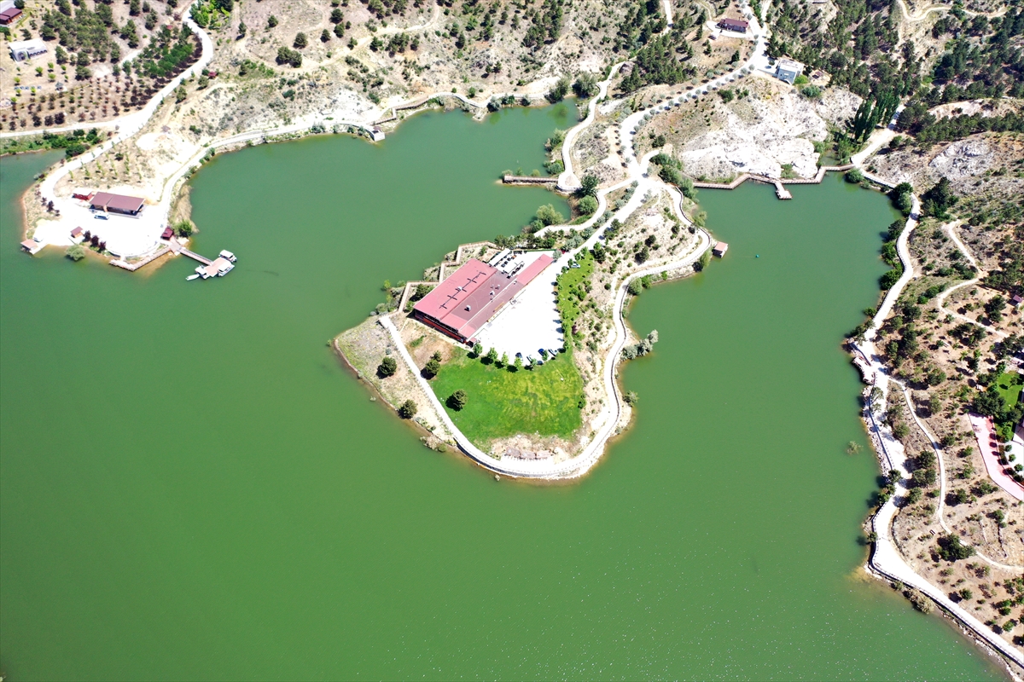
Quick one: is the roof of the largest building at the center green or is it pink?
pink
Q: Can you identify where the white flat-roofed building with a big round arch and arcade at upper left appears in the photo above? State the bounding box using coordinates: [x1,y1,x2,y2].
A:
[8,38,48,61]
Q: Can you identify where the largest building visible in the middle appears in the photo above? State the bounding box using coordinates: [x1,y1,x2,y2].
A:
[414,254,554,347]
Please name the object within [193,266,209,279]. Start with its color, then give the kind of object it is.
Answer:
white boat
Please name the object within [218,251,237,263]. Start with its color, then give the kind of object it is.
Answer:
white boat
